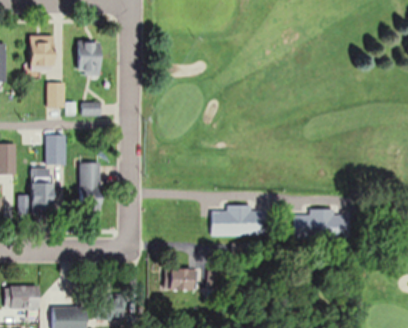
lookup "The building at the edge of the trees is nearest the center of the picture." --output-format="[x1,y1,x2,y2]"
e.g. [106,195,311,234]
[210,204,264,237]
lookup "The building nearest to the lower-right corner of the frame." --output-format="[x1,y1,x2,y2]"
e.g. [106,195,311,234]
[284,208,348,238]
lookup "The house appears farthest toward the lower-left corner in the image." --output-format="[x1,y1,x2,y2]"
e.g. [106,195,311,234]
[4,284,42,310]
